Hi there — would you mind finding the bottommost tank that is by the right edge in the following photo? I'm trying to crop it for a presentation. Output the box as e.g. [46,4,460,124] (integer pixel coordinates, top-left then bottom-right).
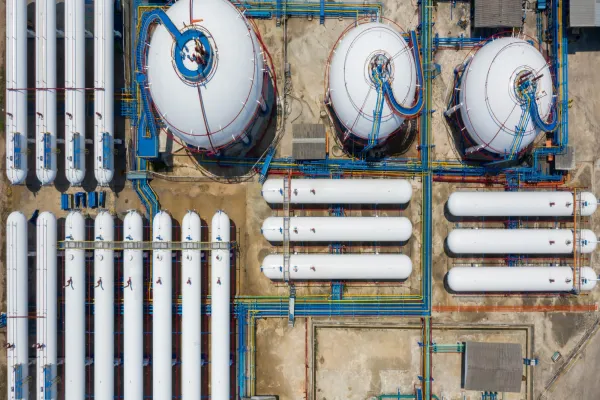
[447,261,600,293]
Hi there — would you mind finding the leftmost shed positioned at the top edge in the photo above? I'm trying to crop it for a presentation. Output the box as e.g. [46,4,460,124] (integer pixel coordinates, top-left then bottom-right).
[471,0,524,32]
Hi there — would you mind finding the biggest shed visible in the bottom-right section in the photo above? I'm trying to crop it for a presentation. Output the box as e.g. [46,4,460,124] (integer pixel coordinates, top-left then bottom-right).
[459,340,524,392]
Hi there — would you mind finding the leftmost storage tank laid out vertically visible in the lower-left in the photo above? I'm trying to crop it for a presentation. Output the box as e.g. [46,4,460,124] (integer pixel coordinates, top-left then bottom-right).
[2,210,35,400]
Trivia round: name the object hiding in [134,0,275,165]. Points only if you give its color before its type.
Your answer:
white storage tank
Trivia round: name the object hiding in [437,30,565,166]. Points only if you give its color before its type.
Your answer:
white storage tank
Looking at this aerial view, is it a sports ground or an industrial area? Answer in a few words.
industrial area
